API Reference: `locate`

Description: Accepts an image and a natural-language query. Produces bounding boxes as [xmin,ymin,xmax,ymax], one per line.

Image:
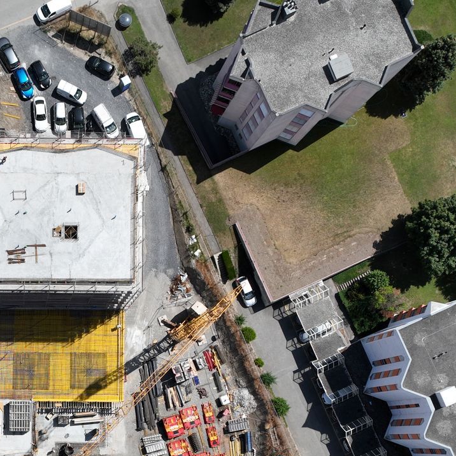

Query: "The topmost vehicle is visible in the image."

[36,0,74,24]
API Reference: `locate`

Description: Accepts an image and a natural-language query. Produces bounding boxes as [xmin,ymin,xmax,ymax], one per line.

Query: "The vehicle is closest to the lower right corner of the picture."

[329,436,356,456]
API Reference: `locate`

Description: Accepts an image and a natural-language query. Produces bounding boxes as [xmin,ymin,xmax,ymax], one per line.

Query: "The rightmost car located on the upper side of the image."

[123,110,148,142]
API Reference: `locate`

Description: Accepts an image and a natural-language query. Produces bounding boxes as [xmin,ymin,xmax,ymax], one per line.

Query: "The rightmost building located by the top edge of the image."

[207,0,424,154]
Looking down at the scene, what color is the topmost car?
white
